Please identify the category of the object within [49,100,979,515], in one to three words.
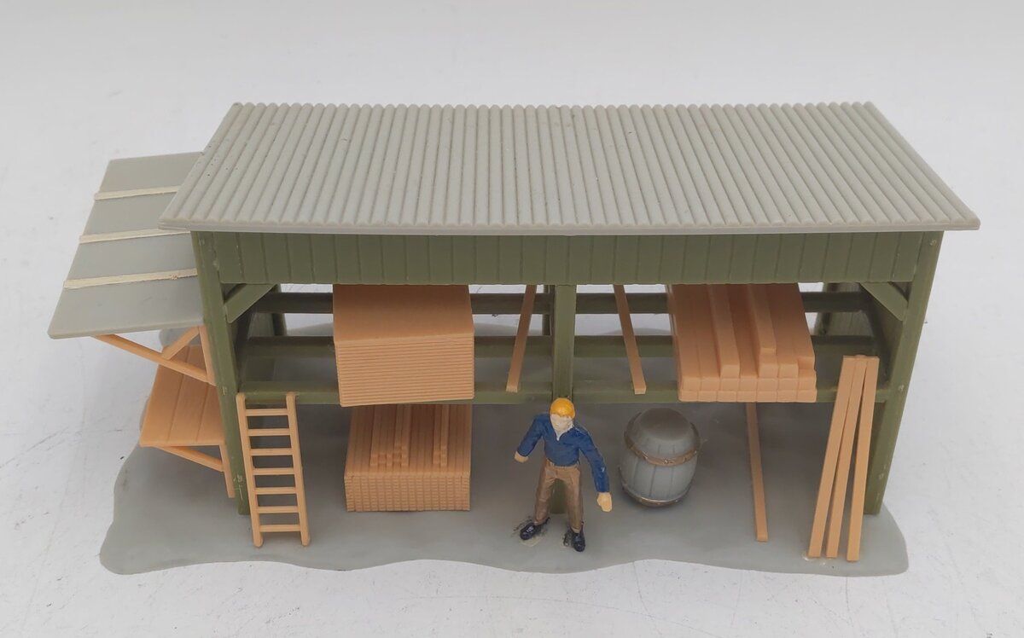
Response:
shed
